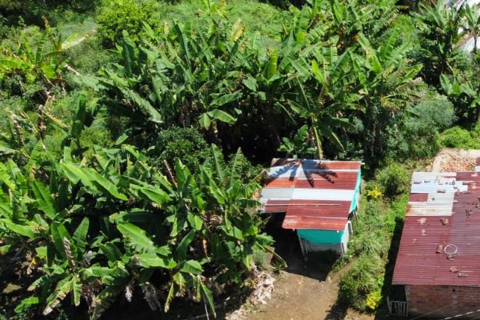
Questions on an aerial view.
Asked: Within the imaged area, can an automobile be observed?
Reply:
No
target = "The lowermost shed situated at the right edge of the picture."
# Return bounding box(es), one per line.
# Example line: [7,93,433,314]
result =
[392,166,480,318]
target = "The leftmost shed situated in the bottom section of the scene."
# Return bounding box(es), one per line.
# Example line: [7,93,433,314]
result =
[262,158,366,260]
